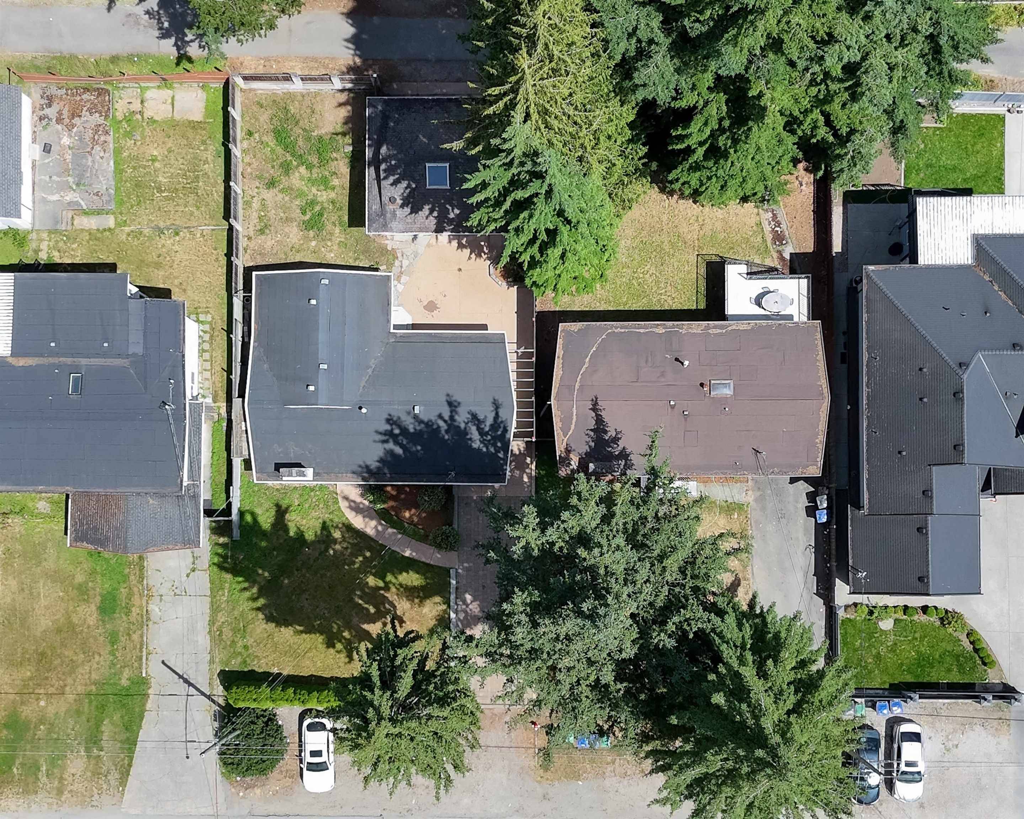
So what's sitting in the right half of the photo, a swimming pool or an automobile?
automobile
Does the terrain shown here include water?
No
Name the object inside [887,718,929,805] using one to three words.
car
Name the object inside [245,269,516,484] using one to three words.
house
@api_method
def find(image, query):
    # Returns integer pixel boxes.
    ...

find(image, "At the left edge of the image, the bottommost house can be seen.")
[0,273,204,555]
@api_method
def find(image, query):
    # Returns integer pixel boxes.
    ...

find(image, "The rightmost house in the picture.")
[846,234,1024,595]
